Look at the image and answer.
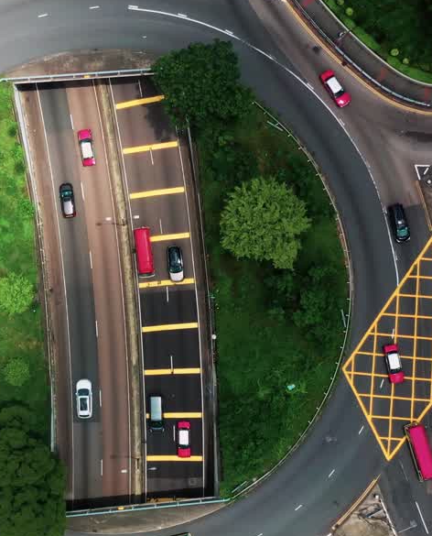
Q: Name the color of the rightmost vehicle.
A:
pink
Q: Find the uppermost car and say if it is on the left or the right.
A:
right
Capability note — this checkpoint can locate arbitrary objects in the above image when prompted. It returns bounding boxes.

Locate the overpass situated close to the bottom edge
[49,492,236,526]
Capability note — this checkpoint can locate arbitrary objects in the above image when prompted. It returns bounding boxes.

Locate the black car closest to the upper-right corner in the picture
[387,202,410,243]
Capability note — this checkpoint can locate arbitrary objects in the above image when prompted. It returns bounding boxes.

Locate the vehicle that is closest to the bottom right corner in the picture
[401,420,432,482]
